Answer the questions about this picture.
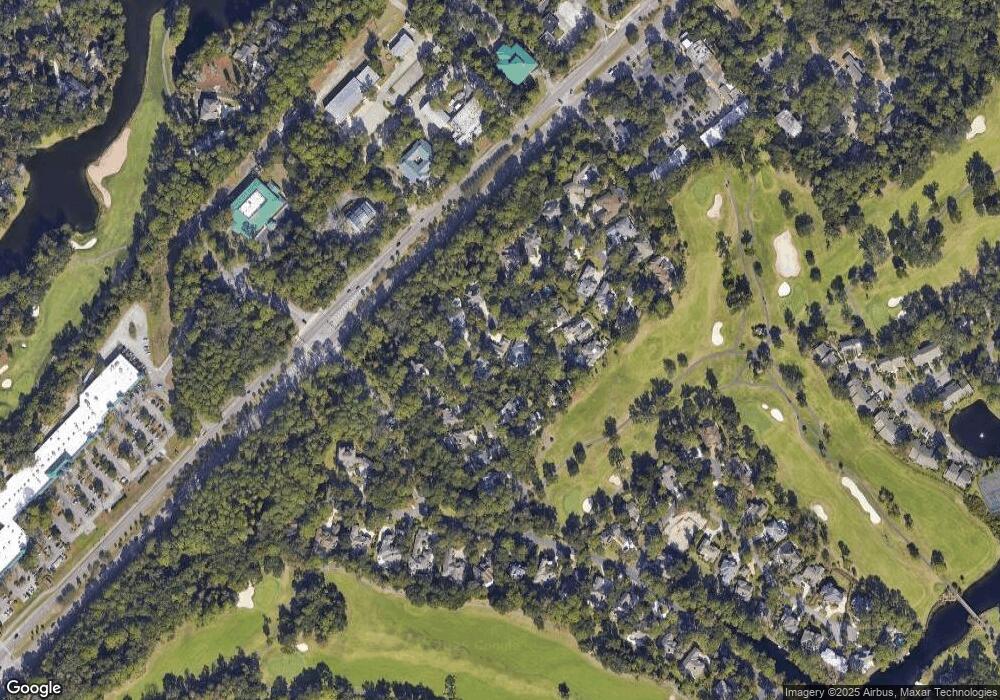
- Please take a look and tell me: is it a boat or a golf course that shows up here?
golf course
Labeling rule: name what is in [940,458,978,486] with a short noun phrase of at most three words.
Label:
building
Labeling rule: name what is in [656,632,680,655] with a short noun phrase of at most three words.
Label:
house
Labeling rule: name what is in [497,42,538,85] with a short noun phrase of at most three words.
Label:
building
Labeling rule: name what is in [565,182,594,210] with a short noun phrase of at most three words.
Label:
house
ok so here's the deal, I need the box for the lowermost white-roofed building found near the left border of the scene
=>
[0,354,141,578]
